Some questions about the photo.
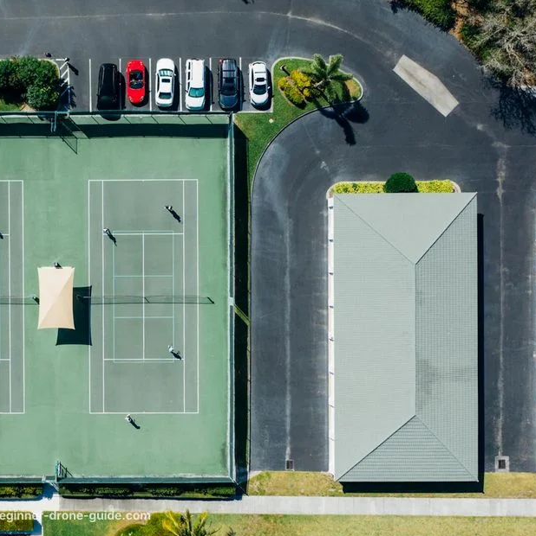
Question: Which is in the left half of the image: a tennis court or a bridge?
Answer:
tennis court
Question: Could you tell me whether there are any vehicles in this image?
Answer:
Yes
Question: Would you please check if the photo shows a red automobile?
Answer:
Yes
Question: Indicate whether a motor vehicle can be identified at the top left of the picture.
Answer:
Yes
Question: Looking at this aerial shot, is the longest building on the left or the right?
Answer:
right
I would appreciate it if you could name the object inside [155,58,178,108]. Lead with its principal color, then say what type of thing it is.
white car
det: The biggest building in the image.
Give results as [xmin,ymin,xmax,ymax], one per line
[326,192,478,483]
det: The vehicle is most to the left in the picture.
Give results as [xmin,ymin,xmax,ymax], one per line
[95,60,119,111]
